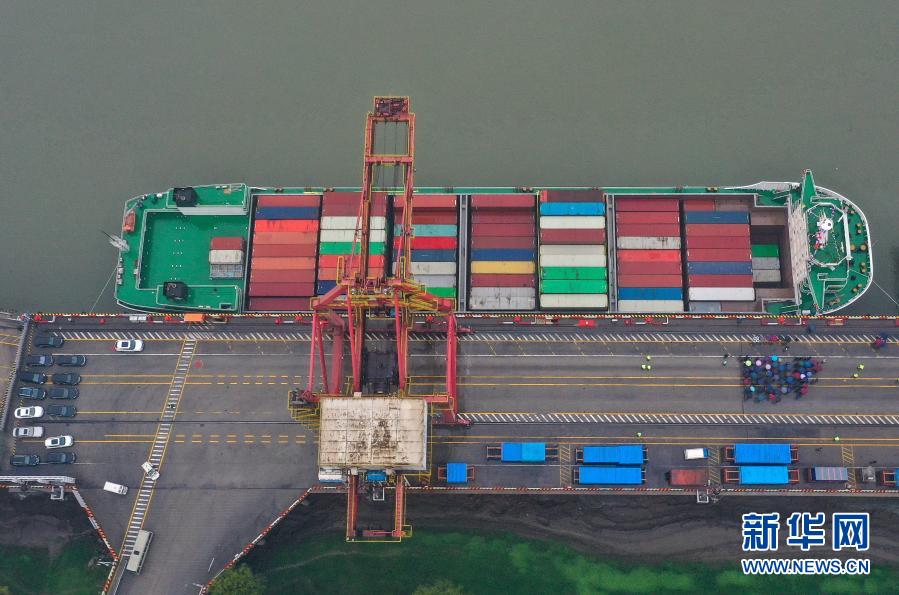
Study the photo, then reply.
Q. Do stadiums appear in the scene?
No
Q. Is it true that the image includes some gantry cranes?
Yes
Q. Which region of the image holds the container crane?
center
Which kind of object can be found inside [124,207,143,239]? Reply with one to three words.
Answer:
boat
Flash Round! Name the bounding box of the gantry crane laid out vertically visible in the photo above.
[287,96,476,541]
